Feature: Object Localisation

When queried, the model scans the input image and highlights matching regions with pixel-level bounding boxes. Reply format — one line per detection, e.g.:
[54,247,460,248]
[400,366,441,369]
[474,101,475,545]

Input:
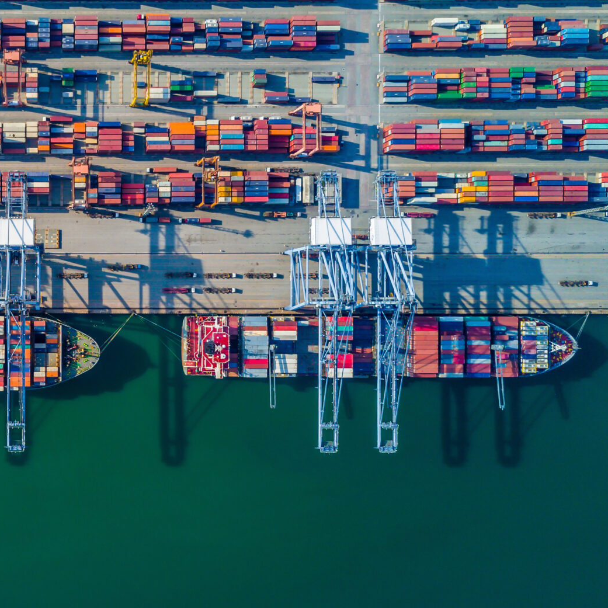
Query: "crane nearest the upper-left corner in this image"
[1,42,25,105]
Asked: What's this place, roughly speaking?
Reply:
port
